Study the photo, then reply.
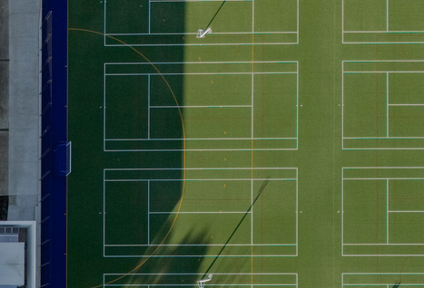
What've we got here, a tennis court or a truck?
tennis court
